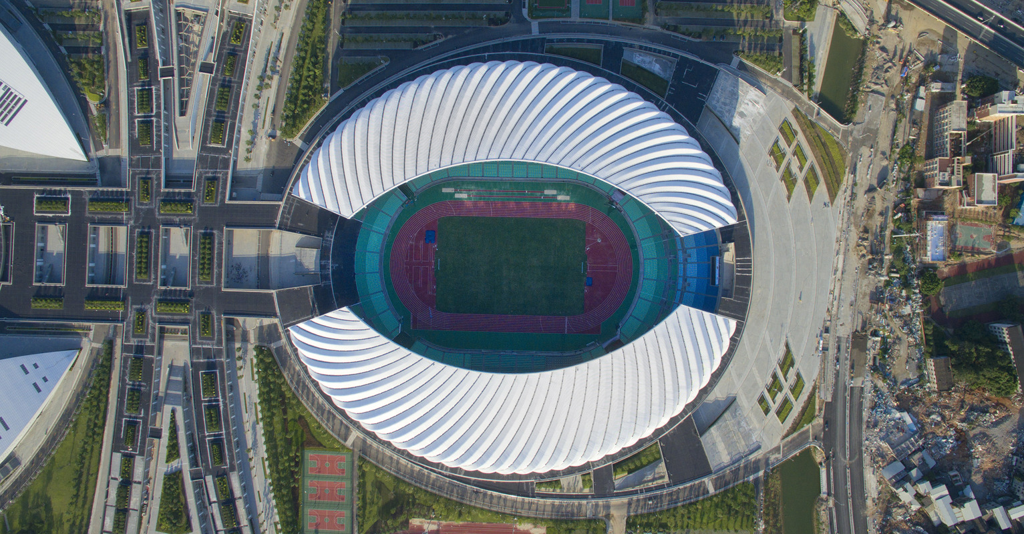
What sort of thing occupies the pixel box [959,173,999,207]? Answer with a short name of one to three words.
building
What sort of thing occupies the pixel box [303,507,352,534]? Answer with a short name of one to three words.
basketball court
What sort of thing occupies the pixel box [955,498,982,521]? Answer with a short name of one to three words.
house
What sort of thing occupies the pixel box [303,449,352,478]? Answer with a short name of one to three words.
basketball court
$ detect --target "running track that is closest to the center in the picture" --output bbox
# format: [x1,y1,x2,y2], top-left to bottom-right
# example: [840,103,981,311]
[390,200,631,335]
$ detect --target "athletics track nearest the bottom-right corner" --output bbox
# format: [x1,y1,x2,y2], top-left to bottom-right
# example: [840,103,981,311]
[932,249,1024,325]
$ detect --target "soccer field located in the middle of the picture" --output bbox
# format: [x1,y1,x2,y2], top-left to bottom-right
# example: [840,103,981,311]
[436,217,586,316]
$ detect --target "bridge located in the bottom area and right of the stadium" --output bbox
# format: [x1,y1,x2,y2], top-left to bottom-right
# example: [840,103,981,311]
[760,412,829,473]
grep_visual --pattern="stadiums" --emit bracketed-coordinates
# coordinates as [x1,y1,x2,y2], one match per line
[274,32,754,501]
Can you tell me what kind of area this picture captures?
sports ground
